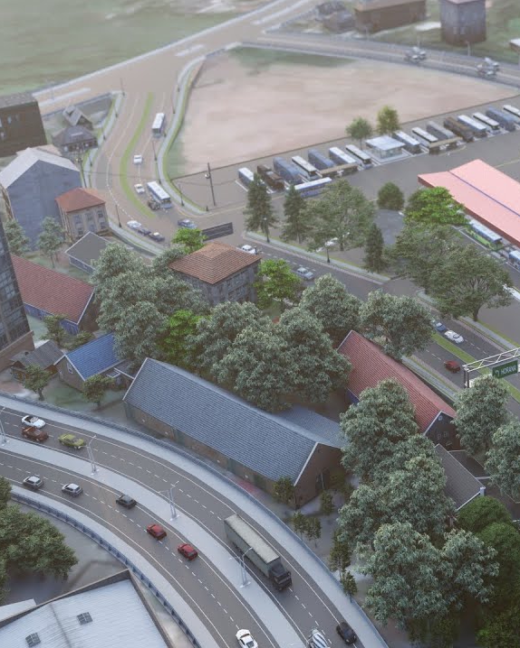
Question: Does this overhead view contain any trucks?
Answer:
Yes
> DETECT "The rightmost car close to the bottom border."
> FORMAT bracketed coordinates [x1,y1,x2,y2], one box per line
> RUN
[335,615,358,645]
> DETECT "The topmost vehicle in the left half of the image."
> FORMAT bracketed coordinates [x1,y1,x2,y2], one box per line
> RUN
[151,115,167,139]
